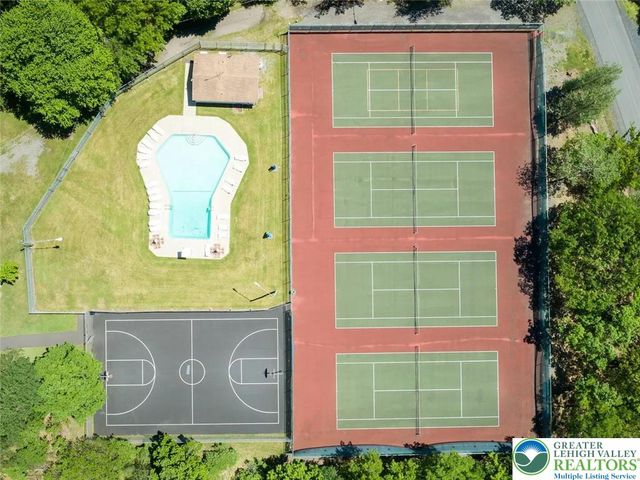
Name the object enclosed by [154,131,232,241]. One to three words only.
swimming pool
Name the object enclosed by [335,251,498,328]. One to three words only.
tennis court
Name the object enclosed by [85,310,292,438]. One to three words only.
basketball court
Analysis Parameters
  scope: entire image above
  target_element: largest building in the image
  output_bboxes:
[191,53,258,104]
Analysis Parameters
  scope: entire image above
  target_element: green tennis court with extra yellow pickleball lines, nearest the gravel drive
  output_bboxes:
[332,52,494,127]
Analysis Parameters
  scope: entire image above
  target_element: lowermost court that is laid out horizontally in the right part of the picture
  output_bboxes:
[336,352,499,429]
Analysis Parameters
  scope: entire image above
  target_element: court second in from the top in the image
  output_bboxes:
[334,152,495,227]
